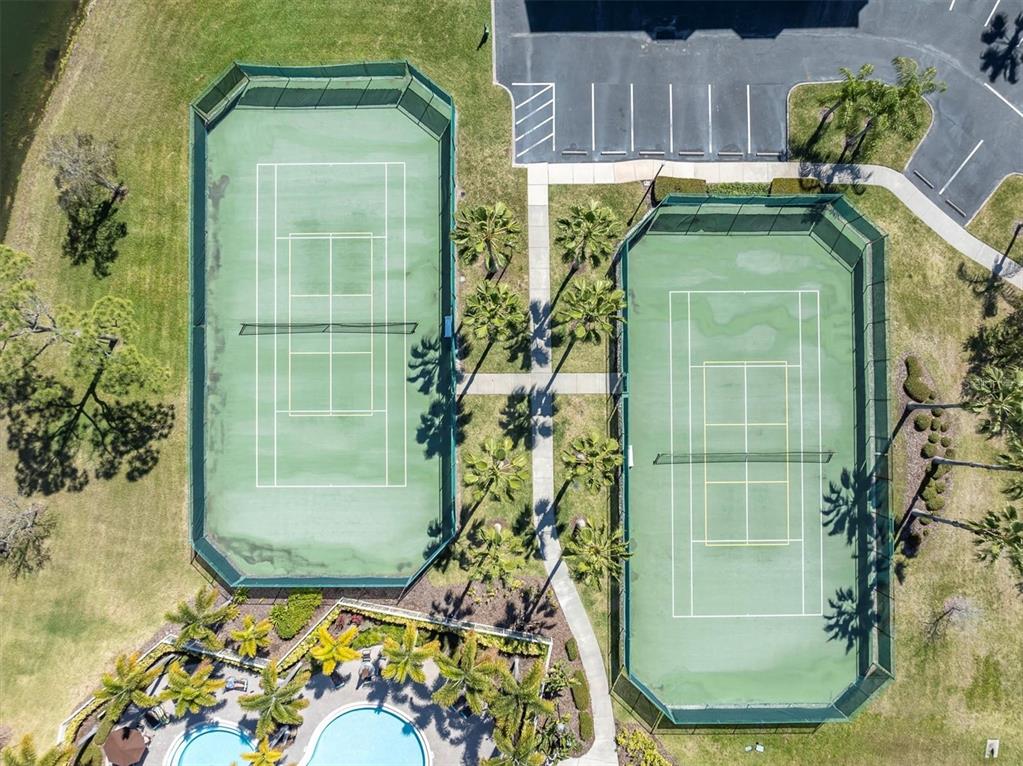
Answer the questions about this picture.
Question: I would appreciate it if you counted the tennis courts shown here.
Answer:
2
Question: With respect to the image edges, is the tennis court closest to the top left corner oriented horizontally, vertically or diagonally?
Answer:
vertically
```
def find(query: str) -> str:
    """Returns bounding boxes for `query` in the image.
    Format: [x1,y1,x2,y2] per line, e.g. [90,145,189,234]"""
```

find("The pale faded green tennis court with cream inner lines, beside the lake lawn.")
[201,75,461,579]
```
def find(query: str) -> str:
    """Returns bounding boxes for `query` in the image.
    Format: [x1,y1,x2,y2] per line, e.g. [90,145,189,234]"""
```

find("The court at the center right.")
[618,200,876,709]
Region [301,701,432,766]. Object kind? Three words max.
swimming pool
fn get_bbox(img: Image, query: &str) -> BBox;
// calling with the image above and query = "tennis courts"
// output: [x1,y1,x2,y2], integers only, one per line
[618,200,876,709]
[201,75,461,579]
